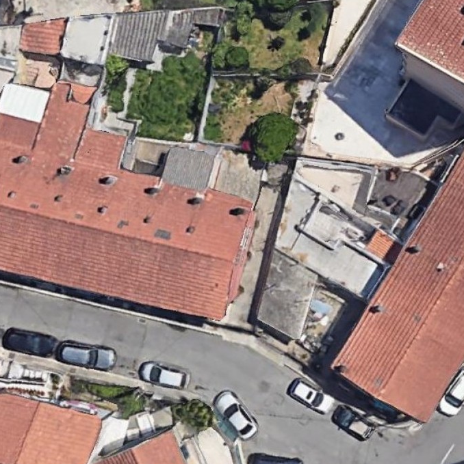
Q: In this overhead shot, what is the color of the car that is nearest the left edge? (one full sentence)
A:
The car that is nearest the left edge is black.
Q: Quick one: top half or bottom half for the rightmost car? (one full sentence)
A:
Seen from above, the rightmost car lies in the bottom half of the view.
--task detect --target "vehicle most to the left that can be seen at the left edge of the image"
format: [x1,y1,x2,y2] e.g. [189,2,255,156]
[0,326,57,360]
